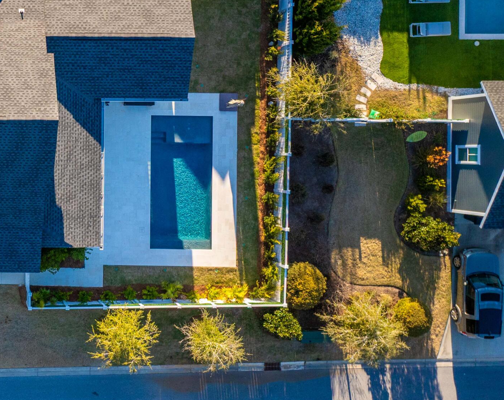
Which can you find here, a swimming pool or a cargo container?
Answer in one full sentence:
Visible in the photo is a swimming pool.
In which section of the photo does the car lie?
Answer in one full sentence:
The car is located in the bottom right region of the scene.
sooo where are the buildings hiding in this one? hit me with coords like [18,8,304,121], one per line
[0,0,195,270]
[451,81,504,229]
